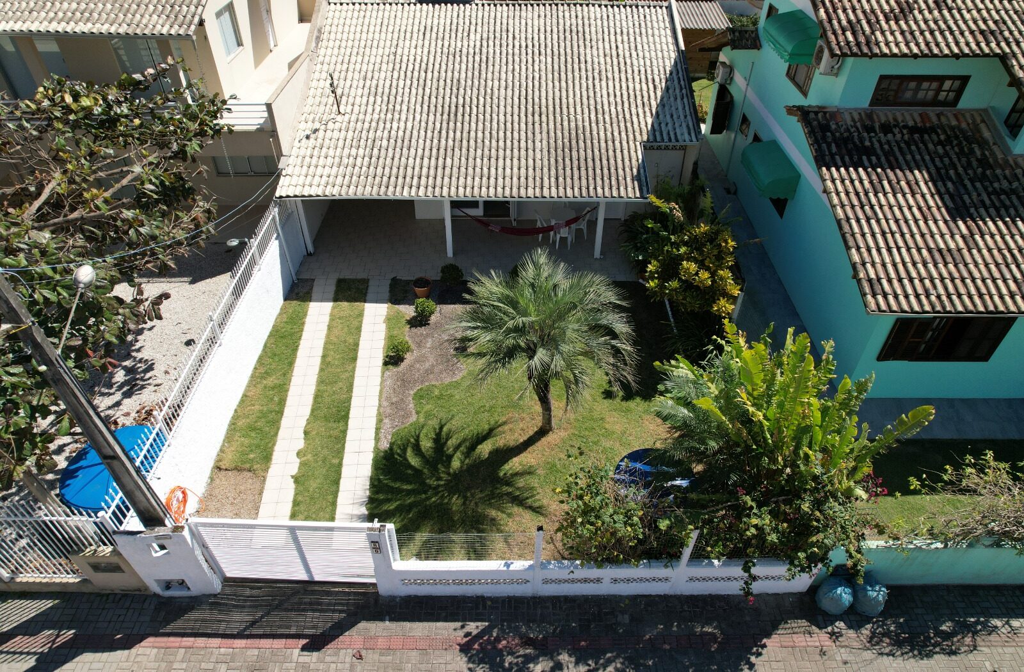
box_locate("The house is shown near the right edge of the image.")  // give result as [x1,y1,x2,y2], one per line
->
[707,0,1024,397]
